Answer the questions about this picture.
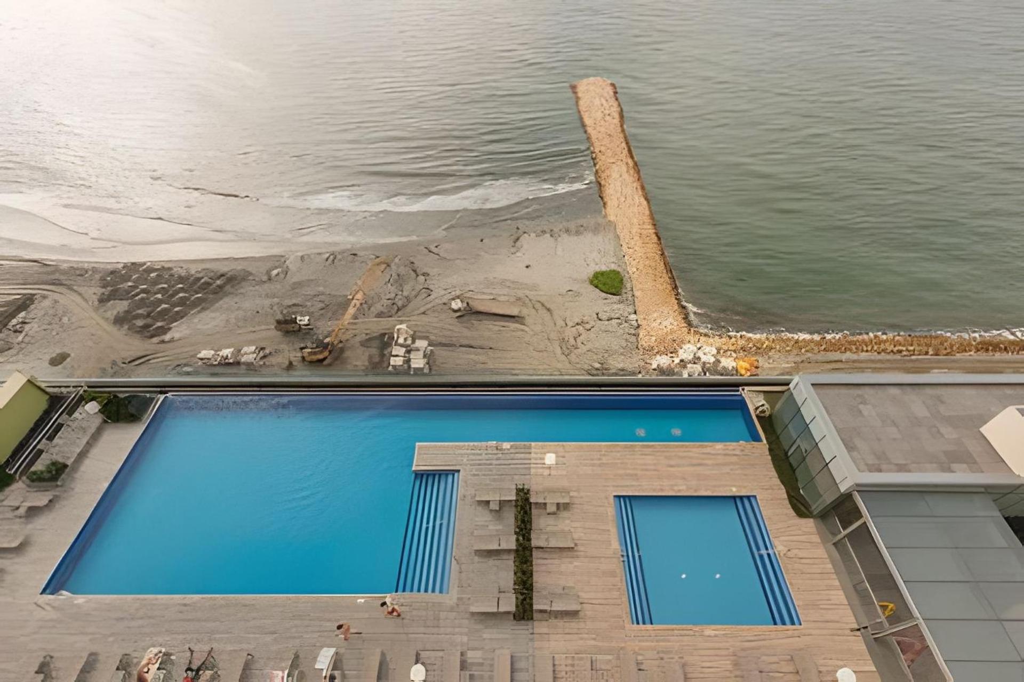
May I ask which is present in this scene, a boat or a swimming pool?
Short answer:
swimming pool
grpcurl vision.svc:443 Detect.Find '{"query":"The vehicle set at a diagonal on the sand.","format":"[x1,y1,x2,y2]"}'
[284,271,384,376]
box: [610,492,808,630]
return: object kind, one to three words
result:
swimming pool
